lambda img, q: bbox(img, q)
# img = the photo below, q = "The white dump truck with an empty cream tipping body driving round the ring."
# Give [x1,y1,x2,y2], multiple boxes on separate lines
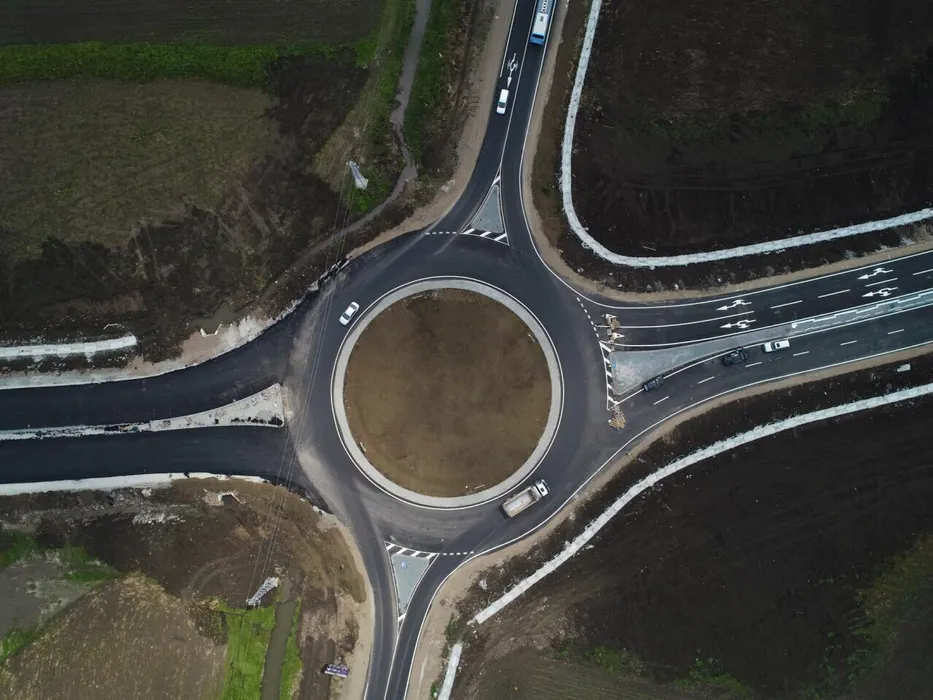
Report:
[501,479,551,517]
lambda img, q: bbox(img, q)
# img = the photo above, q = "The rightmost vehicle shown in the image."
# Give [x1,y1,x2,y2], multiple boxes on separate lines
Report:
[761,339,788,354]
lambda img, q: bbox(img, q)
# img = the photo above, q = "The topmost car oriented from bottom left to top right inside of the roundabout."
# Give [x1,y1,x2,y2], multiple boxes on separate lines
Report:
[339,301,360,326]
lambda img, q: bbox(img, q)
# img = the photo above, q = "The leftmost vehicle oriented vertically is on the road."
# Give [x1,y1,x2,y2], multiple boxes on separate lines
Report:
[495,89,508,115]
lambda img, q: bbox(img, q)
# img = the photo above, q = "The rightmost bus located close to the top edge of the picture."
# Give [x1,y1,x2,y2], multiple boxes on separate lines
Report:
[531,0,555,46]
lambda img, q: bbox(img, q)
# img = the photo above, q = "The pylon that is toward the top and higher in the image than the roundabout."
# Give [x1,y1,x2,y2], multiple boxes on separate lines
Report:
[345,162,370,191]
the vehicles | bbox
[531,0,555,46]
[339,301,360,326]
[641,374,665,392]
[501,479,551,517]
[722,348,749,365]
[761,339,788,354]
[495,89,508,115]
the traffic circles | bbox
[285,232,610,558]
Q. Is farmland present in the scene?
Yes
